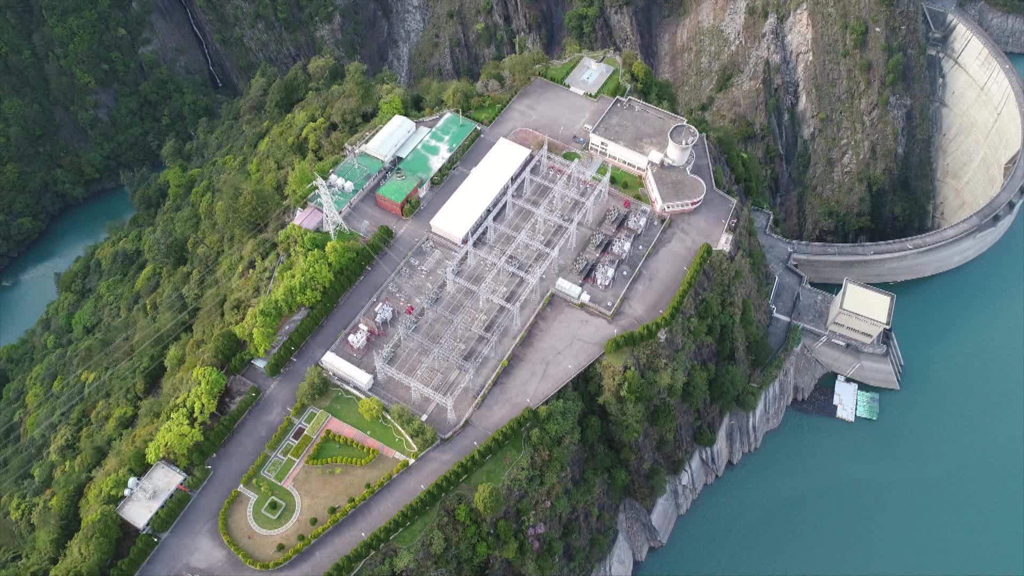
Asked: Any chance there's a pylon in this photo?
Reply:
Yes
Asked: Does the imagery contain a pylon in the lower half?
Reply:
No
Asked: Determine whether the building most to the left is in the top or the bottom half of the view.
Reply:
bottom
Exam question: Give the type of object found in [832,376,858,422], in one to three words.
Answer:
pier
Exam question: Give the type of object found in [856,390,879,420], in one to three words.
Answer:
pier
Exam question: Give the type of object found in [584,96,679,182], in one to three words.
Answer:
building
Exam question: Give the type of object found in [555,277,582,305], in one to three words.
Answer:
building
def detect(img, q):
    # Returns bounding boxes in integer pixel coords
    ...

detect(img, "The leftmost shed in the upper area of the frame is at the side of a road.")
[293,206,322,238]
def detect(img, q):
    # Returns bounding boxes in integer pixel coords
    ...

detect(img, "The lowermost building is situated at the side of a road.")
[115,462,192,537]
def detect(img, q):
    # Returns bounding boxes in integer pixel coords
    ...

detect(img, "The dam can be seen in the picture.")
[786,14,1024,288]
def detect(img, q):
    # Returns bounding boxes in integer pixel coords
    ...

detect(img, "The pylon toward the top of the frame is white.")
[309,173,346,244]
